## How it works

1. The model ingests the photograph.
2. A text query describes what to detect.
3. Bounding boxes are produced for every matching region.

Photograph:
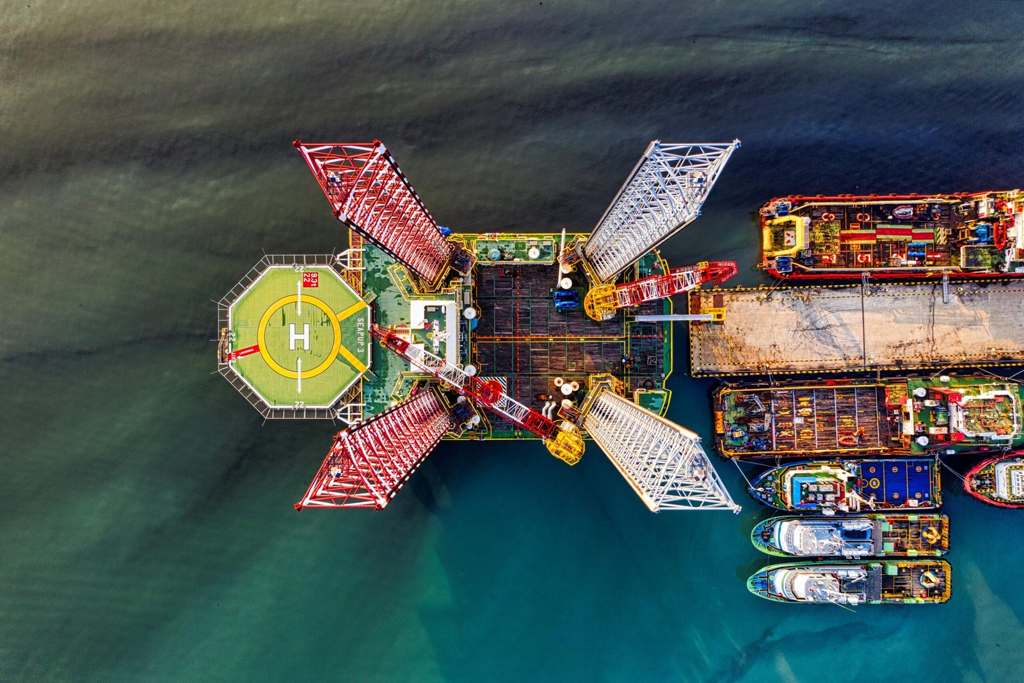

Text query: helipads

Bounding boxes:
[209,247,378,426]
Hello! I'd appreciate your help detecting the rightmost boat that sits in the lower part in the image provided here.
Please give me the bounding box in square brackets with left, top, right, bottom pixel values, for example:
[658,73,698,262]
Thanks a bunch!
[953,448,1024,511]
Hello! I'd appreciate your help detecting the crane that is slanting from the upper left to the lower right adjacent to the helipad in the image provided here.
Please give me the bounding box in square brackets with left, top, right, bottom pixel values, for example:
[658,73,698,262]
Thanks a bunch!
[367,323,584,460]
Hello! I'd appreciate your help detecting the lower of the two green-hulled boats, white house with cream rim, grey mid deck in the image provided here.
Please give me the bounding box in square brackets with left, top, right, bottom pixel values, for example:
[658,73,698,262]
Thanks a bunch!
[744,558,954,613]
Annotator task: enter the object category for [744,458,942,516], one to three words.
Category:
boat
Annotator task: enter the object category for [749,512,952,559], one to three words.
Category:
boat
